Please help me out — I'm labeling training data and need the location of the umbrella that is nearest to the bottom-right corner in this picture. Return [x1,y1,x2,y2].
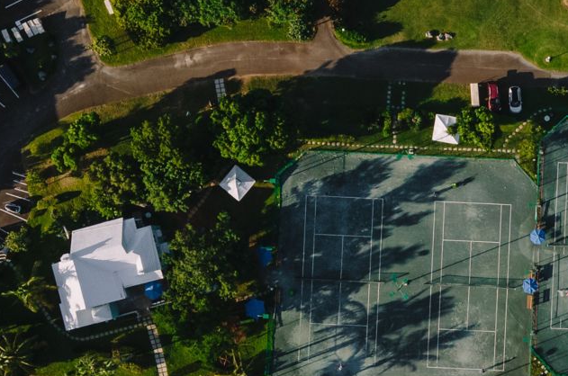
[522,277,538,293]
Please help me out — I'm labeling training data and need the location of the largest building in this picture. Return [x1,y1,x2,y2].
[53,217,167,330]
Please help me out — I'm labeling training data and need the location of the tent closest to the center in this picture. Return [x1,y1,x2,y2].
[221,166,255,201]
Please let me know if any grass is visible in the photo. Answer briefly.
Yes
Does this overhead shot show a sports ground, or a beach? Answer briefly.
sports ground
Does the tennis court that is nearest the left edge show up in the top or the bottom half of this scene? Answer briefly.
bottom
